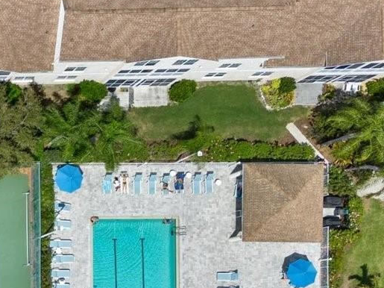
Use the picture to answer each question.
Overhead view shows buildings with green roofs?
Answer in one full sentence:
No, the scene contains no building with a green roof.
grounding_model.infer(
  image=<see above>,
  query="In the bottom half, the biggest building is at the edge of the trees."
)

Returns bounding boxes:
[226,162,323,244]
